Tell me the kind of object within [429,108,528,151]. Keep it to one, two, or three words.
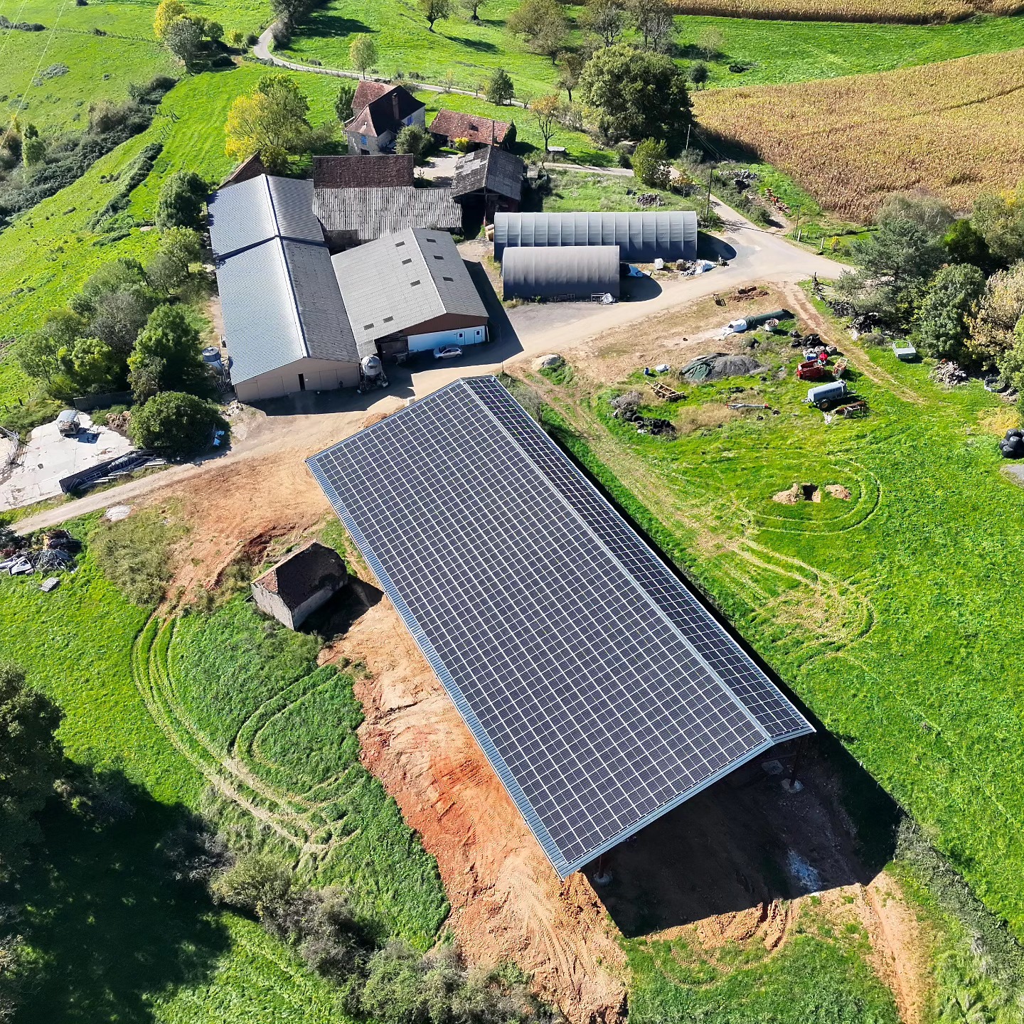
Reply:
shed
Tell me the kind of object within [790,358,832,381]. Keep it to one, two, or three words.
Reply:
trailer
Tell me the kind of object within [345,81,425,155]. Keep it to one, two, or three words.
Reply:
house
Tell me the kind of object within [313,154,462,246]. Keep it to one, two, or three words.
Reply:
barn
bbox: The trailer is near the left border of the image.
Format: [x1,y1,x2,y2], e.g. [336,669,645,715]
[45,402,86,440]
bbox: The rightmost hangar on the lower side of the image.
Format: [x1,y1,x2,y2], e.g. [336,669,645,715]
[305,375,817,882]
